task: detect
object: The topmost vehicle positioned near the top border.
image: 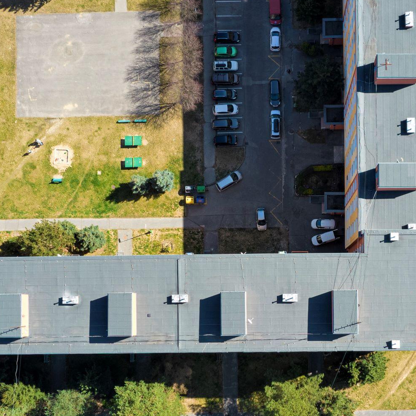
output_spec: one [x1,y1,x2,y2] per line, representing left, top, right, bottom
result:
[268,0,282,26]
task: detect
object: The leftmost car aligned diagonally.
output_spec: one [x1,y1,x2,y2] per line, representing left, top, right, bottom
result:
[215,170,242,193]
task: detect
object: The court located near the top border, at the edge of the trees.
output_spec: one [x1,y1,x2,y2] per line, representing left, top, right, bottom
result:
[16,11,161,117]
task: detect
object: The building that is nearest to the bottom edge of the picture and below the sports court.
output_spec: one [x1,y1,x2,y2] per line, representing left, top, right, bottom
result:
[0,229,416,354]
